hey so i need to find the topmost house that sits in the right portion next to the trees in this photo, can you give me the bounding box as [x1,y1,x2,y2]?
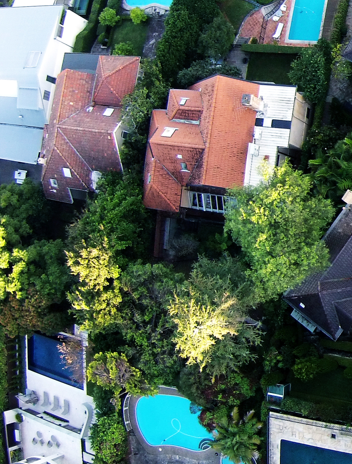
[142,74,309,228]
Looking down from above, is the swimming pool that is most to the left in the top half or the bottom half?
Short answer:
bottom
